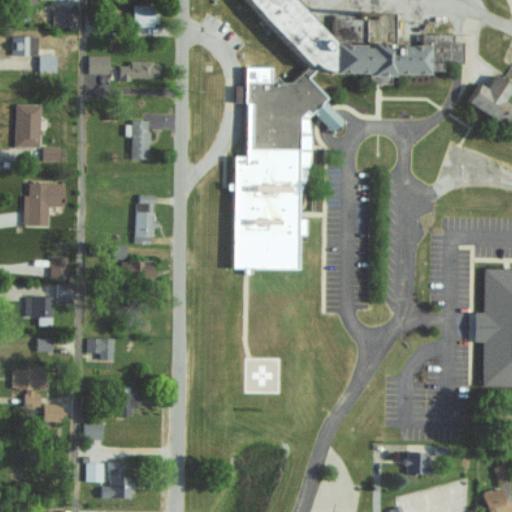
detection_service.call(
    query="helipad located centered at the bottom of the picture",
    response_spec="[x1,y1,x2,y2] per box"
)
[244,357,281,394]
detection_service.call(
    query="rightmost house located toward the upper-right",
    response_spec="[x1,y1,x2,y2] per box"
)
[474,70,512,124]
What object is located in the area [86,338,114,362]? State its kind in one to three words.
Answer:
house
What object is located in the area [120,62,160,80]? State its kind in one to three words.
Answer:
house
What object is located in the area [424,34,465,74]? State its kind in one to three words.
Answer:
building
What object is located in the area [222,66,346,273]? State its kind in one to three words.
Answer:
building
